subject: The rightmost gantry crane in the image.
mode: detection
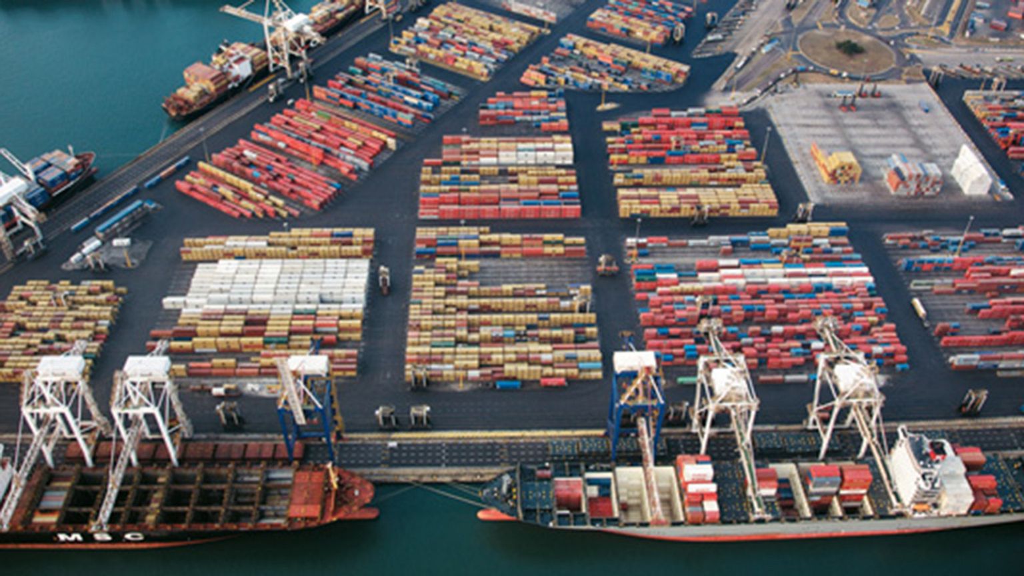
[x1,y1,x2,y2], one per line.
[785,312,896,485]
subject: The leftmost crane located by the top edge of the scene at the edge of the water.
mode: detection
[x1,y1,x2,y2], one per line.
[226,0,332,86]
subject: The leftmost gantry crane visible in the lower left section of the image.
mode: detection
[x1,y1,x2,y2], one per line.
[0,339,117,500]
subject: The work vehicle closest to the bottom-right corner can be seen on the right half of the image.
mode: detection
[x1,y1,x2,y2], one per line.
[968,386,989,418]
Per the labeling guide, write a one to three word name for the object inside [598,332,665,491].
container crane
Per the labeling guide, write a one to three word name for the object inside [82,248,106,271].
work vehicle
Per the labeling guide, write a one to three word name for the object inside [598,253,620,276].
work vehicle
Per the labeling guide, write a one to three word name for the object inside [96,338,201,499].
container crane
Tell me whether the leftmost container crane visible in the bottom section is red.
No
